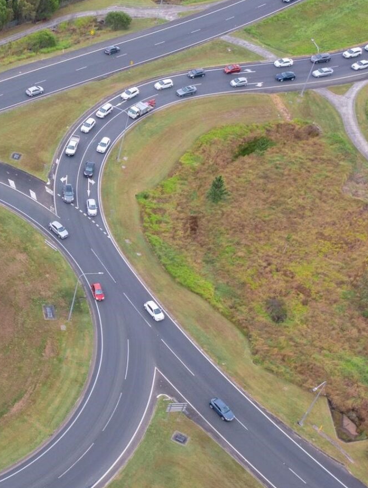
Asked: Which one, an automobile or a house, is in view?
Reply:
automobile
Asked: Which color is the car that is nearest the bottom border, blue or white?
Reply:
blue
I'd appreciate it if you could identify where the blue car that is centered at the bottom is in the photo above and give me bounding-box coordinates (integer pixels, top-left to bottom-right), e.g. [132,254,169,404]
[209,398,235,422]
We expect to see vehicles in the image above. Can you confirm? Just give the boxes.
[176,86,198,97]
[128,98,155,118]
[97,137,110,152]
[121,87,139,99]
[84,161,95,178]
[222,64,243,74]
[96,102,113,118]
[81,119,96,133]
[25,87,44,97]
[155,78,173,89]
[209,398,235,422]
[143,300,164,321]
[91,283,105,302]
[310,52,332,63]
[49,221,69,239]
[87,199,98,216]
[102,45,122,56]
[273,58,294,68]
[230,77,249,87]
[275,72,296,82]
[351,60,368,71]
[65,136,81,155]
[342,47,363,58]
[186,66,208,78]
[312,68,333,77]
[63,184,74,203]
